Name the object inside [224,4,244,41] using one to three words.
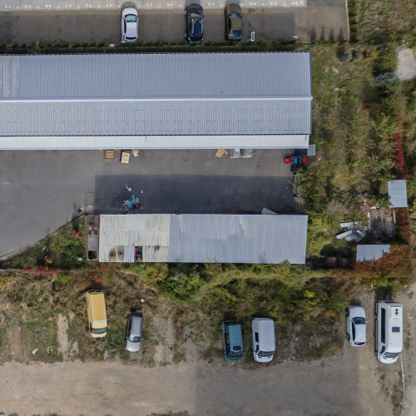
car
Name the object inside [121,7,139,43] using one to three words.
car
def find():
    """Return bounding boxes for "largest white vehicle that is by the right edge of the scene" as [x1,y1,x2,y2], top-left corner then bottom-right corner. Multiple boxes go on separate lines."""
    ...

[371,300,404,360]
